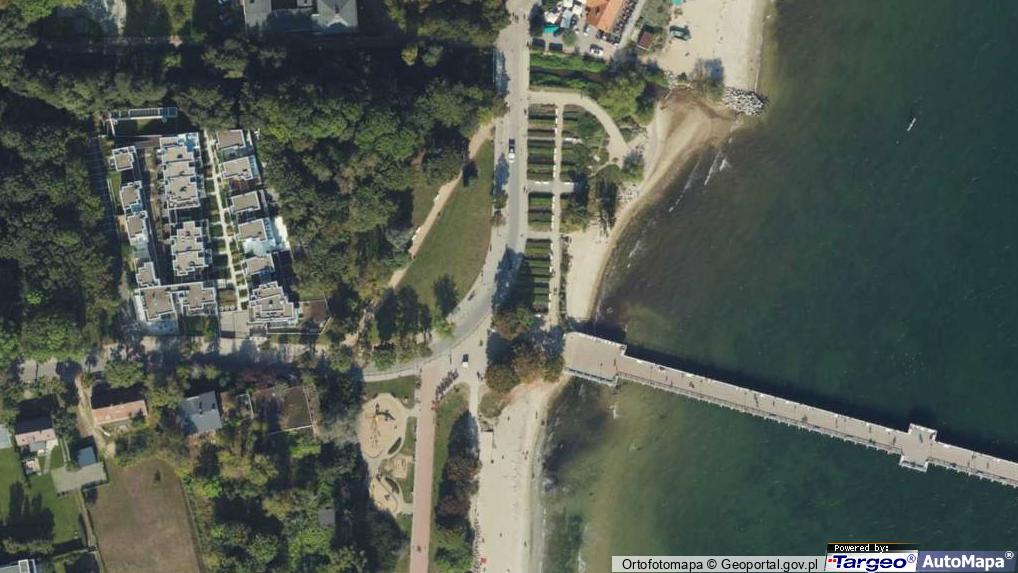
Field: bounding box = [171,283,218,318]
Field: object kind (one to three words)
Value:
house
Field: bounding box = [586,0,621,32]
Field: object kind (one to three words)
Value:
building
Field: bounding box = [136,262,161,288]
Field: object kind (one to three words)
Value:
house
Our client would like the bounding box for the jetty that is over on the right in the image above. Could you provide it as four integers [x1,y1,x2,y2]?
[565,332,1018,488]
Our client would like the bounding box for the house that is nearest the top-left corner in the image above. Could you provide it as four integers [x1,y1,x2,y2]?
[107,146,138,173]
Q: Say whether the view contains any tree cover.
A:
Yes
